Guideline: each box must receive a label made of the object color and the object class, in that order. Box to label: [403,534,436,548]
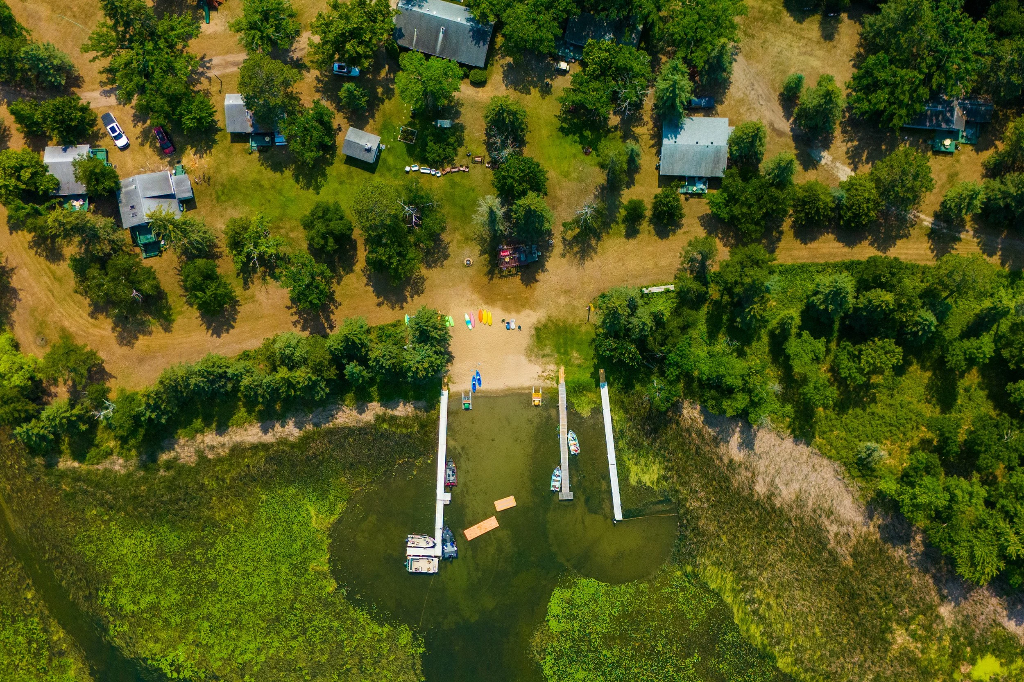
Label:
white boat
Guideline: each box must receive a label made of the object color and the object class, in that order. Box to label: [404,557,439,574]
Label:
white boat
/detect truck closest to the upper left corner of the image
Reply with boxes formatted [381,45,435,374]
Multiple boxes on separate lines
[103,110,132,150]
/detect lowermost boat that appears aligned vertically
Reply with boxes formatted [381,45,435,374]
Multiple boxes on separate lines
[443,525,458,562]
